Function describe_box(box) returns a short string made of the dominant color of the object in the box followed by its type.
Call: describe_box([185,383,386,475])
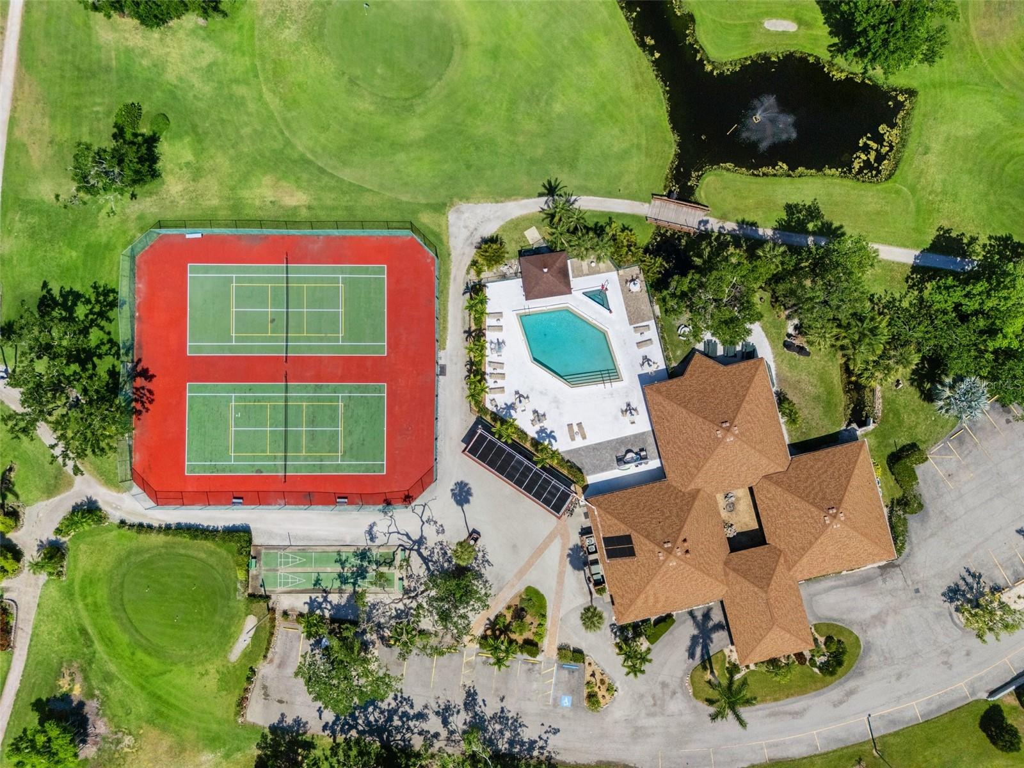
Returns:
green tennis court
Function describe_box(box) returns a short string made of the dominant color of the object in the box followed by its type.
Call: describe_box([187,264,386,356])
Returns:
green tennis court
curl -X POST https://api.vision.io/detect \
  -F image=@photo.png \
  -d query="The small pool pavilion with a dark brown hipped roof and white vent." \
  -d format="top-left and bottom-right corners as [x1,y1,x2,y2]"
[519,251,573,301]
